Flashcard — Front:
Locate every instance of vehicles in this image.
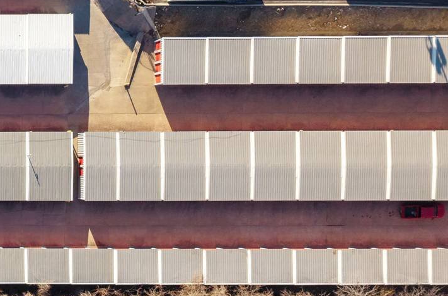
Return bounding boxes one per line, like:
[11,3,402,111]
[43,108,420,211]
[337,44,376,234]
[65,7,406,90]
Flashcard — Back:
[398,202,446,219]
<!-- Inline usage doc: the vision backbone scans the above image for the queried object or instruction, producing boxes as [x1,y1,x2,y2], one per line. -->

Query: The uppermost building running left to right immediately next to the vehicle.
[77,130,448,201]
